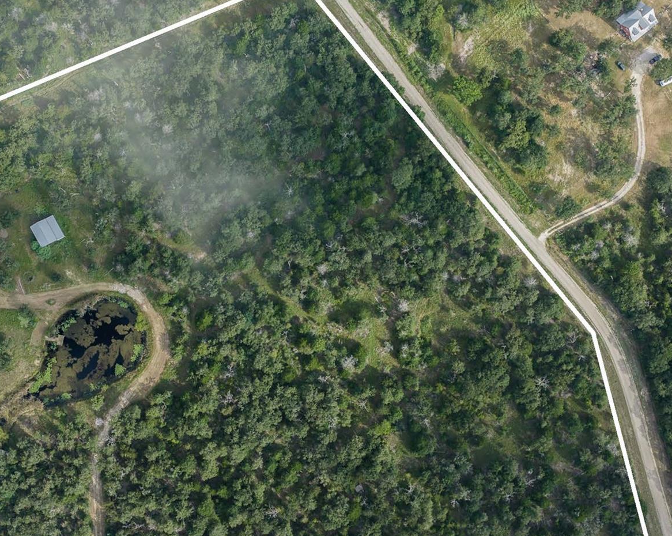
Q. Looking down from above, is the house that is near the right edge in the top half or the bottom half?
top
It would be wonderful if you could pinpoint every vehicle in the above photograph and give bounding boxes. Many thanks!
[649,52,664,63]
[617,59,628,71]
[660,77,672,86]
